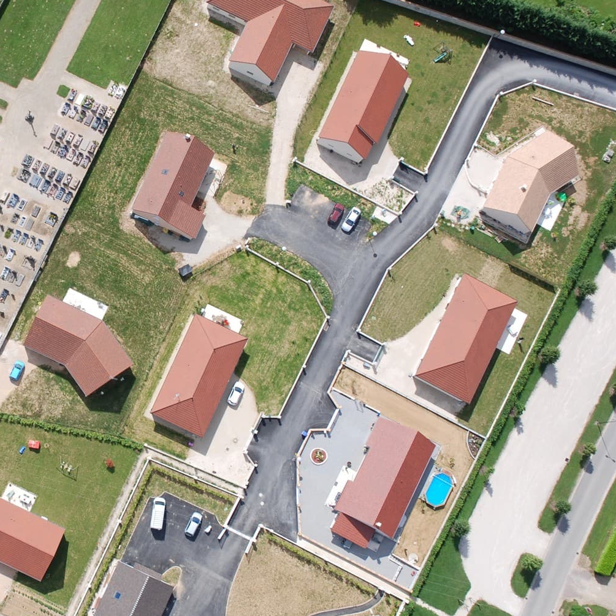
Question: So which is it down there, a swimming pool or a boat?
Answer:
swimming pool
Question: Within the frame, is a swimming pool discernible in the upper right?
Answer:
No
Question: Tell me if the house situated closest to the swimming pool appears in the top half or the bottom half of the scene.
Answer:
bottom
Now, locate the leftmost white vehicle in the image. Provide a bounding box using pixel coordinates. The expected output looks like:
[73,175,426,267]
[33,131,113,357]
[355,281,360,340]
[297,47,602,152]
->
[151,498,167,531]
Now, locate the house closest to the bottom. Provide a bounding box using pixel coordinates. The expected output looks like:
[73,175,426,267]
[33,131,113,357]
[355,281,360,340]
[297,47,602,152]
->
[95,562,174,616]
